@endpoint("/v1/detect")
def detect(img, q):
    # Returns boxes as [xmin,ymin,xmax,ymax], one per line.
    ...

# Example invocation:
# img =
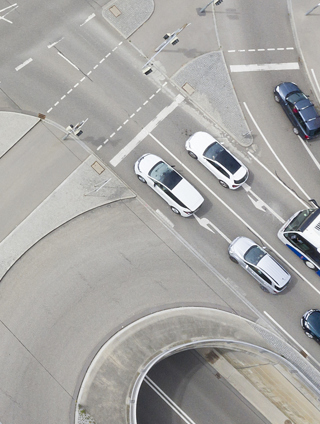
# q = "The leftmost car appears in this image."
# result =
[131,160,205,223]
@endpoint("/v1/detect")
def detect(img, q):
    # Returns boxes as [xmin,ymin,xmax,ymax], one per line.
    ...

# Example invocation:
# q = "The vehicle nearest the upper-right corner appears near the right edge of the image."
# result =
[272,81,320,146]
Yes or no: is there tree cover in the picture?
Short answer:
No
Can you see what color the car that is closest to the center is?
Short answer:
white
